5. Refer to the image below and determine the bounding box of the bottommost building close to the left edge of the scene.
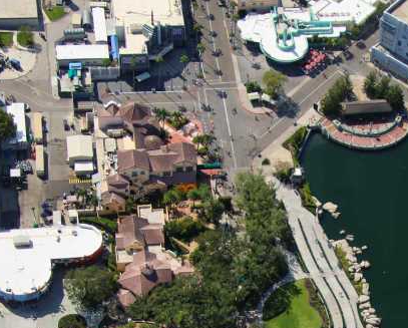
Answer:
[0,225,103,304]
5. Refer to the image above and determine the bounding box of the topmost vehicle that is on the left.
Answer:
[69,0,83,12]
